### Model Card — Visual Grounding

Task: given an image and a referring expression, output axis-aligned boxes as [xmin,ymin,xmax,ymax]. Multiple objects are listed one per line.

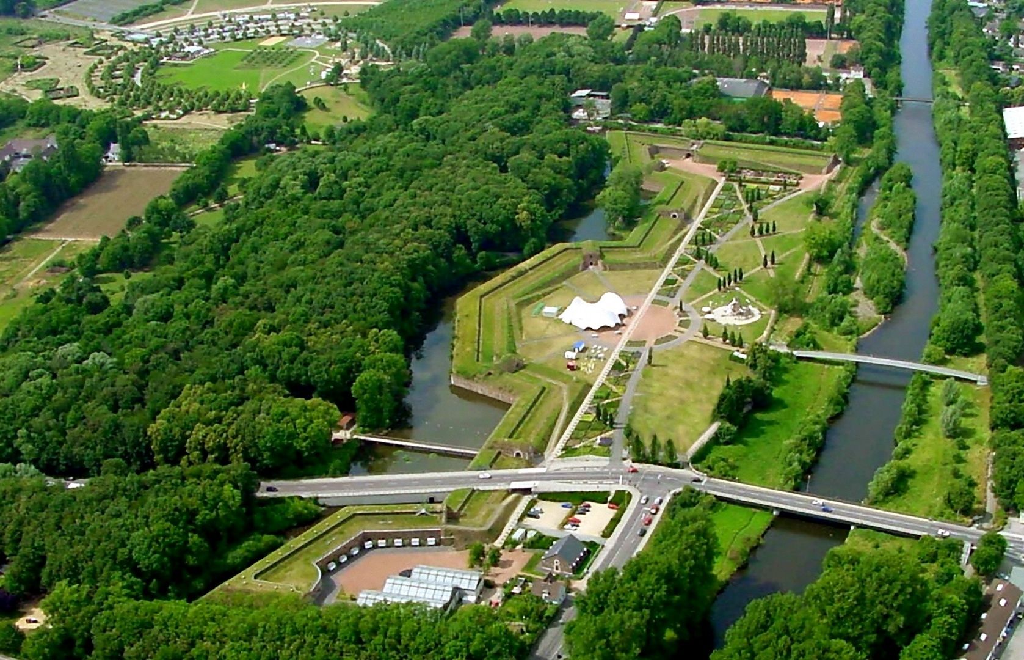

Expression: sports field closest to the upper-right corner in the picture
[696,9,831,38]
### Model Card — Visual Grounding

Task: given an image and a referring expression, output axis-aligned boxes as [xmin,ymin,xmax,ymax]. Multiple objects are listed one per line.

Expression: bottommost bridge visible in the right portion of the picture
[712,474,928,535]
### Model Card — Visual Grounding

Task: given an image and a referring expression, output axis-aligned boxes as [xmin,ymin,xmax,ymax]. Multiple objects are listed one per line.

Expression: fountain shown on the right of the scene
[712,296,759,325]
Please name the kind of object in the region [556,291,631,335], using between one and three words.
tent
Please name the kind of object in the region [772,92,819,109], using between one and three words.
tennis court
